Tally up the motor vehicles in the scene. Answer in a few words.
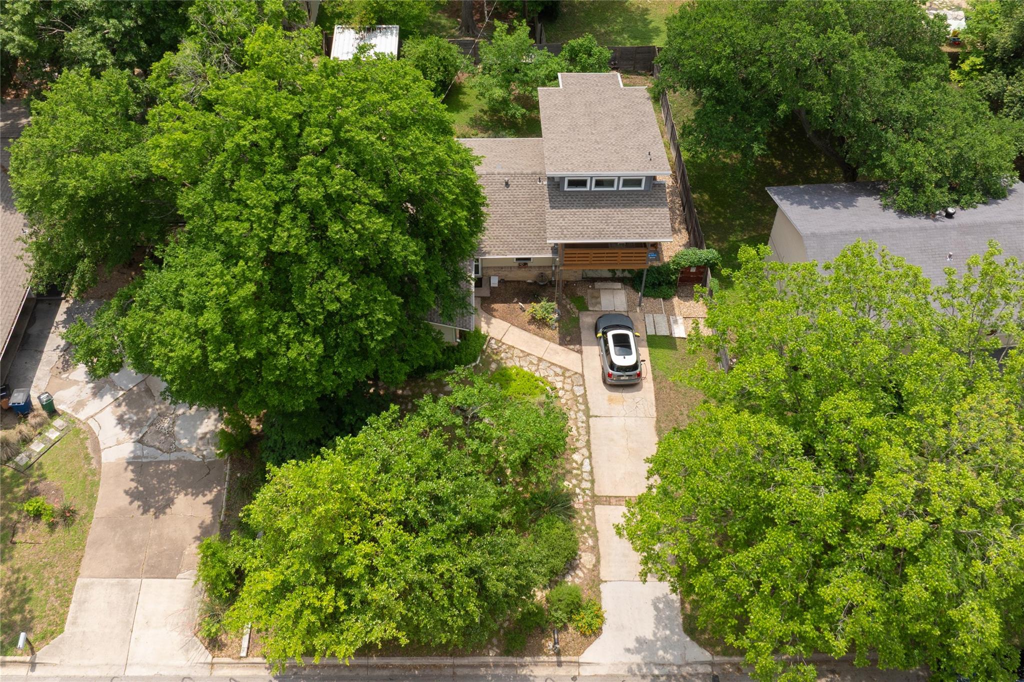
1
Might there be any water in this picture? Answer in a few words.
No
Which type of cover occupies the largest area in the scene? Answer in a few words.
trees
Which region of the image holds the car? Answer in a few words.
center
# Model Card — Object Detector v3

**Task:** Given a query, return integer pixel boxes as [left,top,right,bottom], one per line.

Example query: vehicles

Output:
[593,313,646,389]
